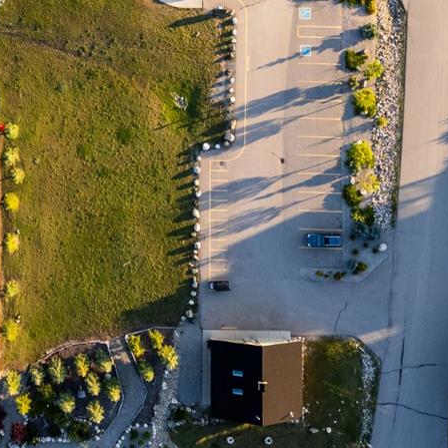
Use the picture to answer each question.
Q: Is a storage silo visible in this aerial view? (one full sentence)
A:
No, there's no storage silo here.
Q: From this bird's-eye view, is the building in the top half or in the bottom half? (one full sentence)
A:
Seen from above, the building lies in the bottom half of the view.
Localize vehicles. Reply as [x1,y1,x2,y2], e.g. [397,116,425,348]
[303,232,344,250]
[208,280,229,293]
